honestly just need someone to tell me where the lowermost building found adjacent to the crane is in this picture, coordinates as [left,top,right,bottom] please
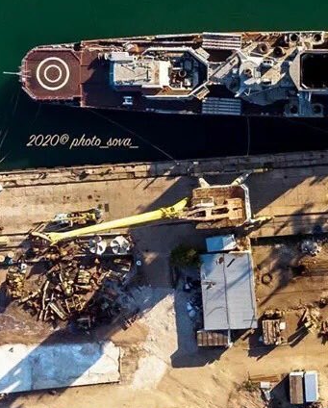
[201,249,260,349]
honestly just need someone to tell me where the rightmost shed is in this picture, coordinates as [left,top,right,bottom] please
[305,369,320,404]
